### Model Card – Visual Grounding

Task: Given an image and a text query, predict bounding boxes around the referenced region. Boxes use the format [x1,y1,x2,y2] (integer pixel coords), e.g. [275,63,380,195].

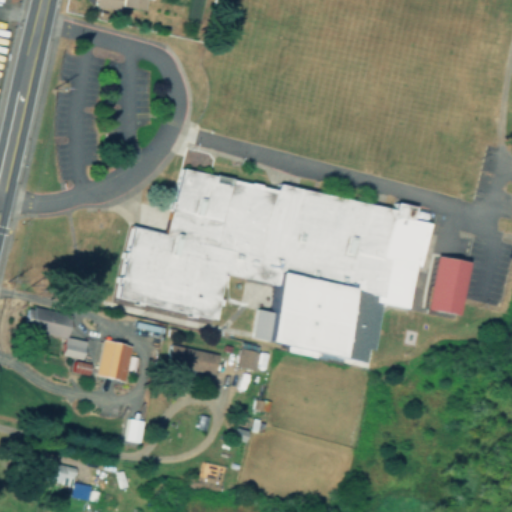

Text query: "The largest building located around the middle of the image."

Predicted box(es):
[112,168,435,368]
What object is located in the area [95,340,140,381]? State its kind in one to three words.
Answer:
house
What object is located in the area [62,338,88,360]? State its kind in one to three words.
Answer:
house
